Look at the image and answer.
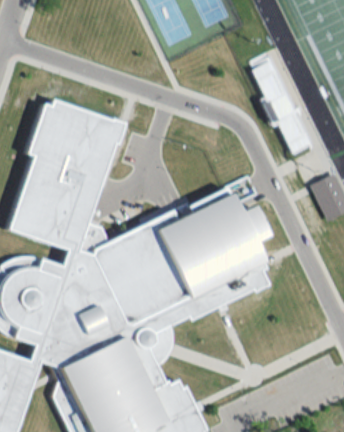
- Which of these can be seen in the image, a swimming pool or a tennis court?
tennis court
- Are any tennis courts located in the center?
No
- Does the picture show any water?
No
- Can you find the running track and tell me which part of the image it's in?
top right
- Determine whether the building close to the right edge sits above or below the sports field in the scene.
below it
